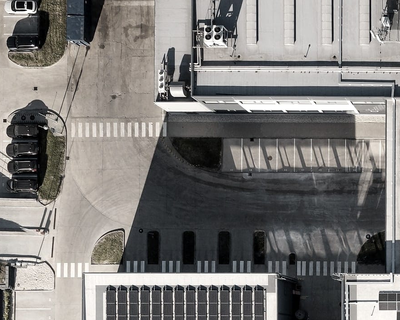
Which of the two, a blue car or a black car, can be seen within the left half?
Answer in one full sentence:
The feature located within the left half is a black car.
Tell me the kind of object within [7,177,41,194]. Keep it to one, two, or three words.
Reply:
car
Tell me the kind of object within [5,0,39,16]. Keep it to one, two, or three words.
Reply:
car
